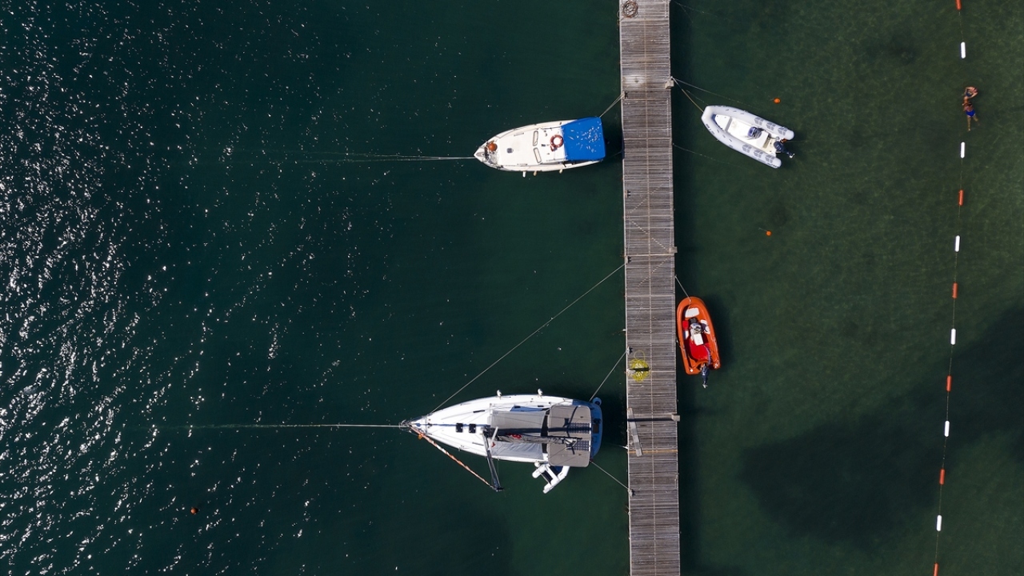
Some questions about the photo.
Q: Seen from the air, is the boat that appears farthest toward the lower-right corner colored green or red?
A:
red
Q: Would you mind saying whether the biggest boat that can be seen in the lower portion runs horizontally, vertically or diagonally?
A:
horizontally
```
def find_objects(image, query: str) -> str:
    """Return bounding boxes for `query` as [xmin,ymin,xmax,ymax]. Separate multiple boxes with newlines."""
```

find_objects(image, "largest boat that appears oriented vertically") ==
[677,297,720,390]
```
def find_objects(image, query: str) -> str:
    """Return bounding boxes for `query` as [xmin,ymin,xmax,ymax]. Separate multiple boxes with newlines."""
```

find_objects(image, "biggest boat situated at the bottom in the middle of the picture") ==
[404,393,603,493]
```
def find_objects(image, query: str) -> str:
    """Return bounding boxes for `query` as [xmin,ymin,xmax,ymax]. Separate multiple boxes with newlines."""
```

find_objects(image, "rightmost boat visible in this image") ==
[703,104,798,168]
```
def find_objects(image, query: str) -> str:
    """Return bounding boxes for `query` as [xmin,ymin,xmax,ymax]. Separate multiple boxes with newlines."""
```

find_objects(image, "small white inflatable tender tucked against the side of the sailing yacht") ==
[532,462,571,493]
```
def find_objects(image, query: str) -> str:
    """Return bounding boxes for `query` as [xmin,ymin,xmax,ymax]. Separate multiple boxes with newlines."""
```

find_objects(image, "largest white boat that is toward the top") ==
[472,117,606,173]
